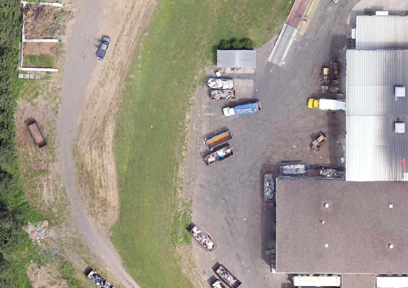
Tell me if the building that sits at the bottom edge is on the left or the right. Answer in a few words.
right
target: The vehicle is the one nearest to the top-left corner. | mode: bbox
[96,35,110,59]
